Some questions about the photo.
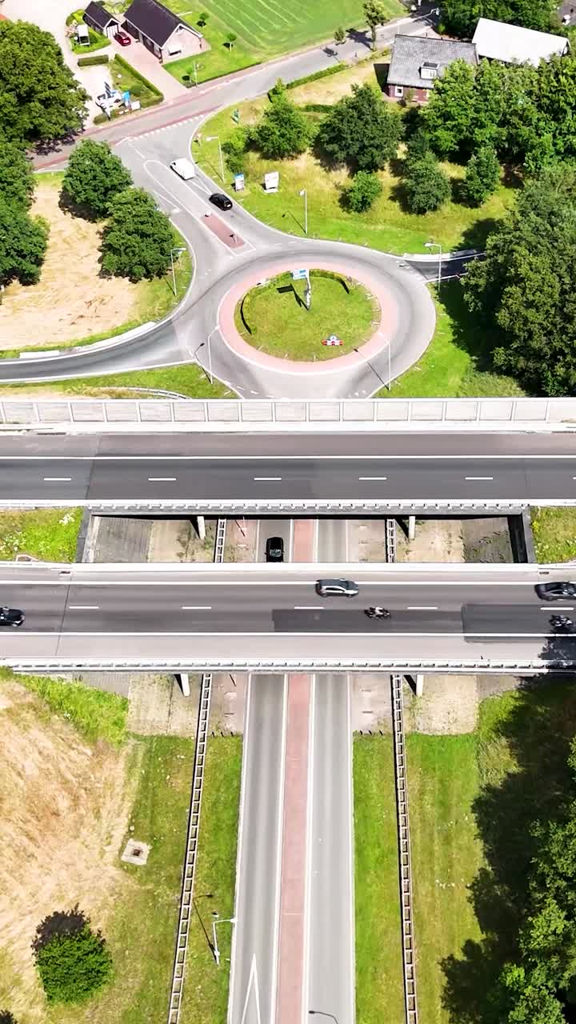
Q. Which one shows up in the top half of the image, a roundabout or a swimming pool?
roundabout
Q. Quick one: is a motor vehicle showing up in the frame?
Yes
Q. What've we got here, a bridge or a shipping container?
bridge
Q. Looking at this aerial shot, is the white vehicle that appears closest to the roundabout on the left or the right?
left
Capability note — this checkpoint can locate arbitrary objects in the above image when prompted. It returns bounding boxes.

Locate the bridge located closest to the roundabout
[0,423,576,539]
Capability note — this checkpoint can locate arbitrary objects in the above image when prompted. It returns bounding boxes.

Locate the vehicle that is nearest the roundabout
[211,192,232,209]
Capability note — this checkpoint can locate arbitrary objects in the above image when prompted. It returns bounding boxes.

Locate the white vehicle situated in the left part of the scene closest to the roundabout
[170,155,194,177]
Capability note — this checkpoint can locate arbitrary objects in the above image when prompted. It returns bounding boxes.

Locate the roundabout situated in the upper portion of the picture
[180,242,437,397]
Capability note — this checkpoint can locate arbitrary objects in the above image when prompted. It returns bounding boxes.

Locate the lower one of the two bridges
[0,561,576,699]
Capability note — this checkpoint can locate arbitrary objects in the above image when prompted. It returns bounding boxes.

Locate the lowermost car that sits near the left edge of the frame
[0,604,25,625]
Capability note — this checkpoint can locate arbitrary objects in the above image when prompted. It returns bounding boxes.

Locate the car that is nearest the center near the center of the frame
[265,536,284,561]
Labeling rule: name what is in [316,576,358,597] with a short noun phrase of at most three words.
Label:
car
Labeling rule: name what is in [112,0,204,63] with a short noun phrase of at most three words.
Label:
house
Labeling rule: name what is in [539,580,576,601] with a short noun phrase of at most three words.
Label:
car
